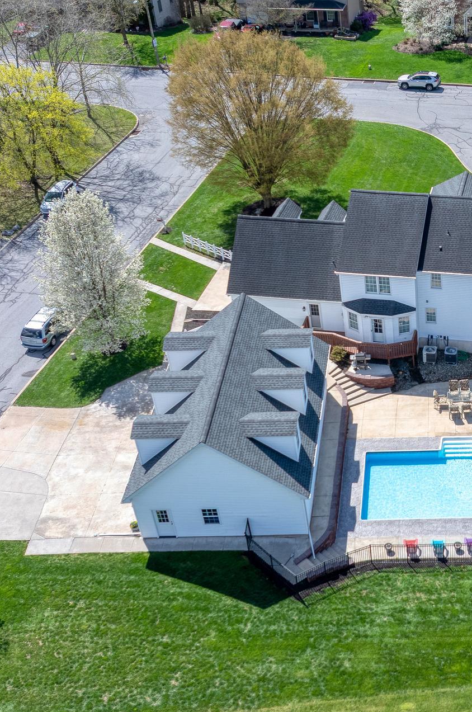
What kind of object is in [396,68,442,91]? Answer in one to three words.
car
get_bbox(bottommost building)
[119,291,332,558]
